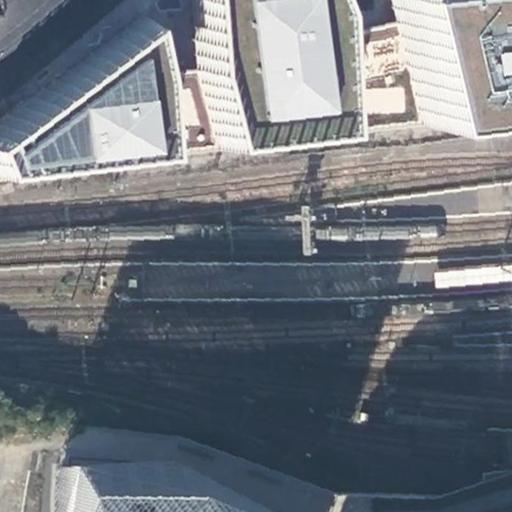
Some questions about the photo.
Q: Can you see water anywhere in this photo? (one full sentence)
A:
No, the picture contains no water.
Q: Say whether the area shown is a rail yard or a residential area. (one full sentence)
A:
It's a rail yard.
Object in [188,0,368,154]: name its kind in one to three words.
building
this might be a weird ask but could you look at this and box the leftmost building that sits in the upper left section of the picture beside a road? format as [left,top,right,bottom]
[0,20,188,184]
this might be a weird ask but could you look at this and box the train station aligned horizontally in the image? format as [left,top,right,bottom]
[0,181,512,437]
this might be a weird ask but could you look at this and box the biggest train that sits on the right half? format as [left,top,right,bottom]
[312,224,446,239]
